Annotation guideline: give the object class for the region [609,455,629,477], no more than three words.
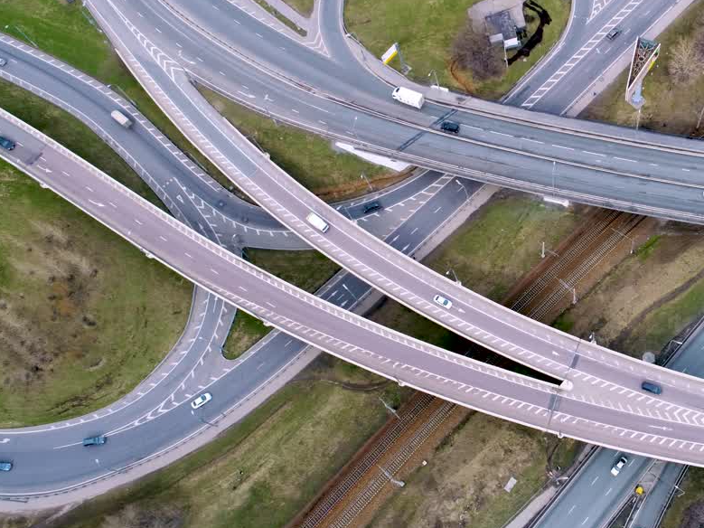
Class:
car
